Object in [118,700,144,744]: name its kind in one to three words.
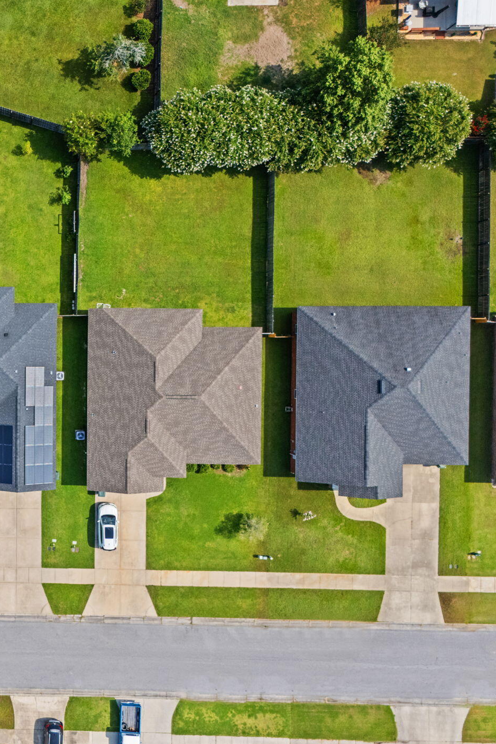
truck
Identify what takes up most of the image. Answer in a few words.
grass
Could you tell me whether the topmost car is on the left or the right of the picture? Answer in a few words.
left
